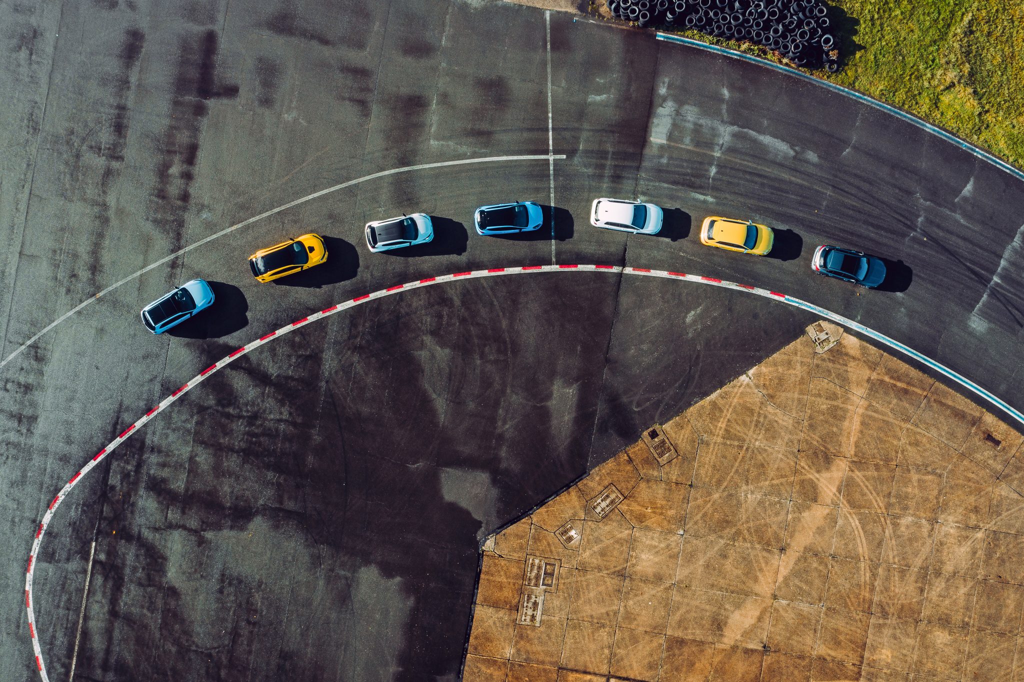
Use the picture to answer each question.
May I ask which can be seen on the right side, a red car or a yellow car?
yellow car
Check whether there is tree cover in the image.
No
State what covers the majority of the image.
paved ground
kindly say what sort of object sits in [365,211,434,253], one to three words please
car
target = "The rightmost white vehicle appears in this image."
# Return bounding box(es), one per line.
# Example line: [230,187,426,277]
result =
[590,198,663,236]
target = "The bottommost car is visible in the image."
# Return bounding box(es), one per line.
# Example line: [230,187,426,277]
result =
[141,278,216,334]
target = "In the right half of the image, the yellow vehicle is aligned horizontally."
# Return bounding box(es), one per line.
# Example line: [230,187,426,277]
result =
[699,216,773,256]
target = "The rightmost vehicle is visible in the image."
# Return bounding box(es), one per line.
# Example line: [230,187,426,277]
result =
[810,245,886,288]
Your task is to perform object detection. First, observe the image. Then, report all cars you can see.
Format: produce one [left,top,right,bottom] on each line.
[810,245,886,288]
[141,278,216,334]
[699,216,773,256]
[590,198,663,236]
[365,211,434,253]
[474,198,543,237]
[249,234,328,283]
